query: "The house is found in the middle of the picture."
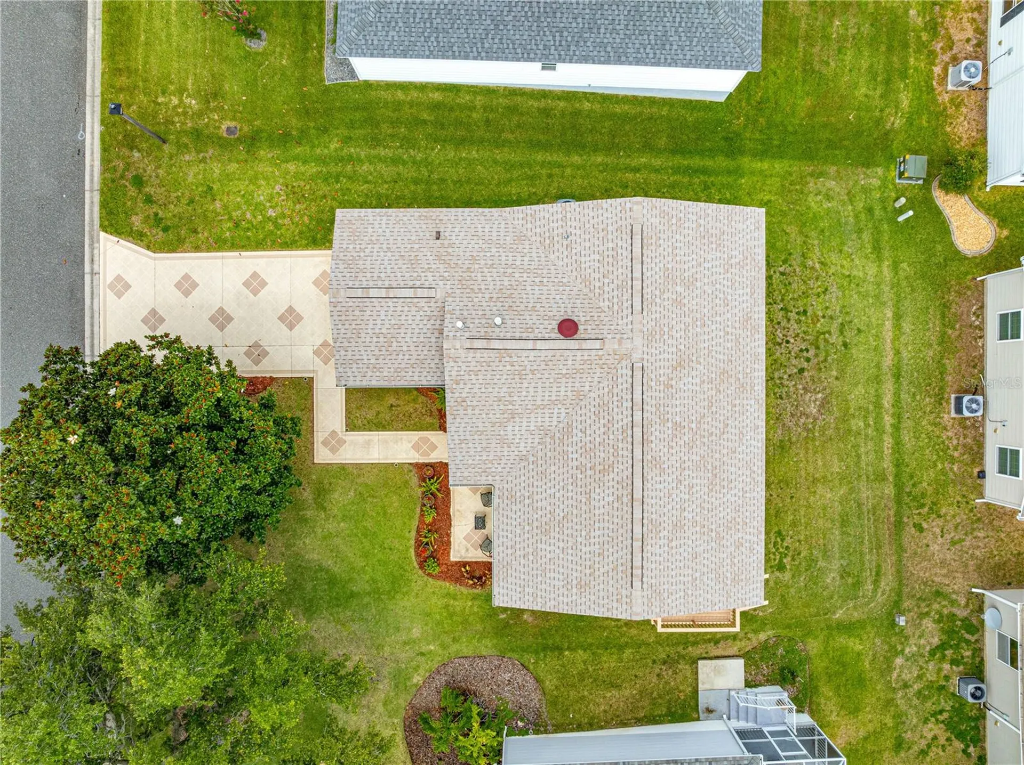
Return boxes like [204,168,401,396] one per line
[328,196,767,621]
